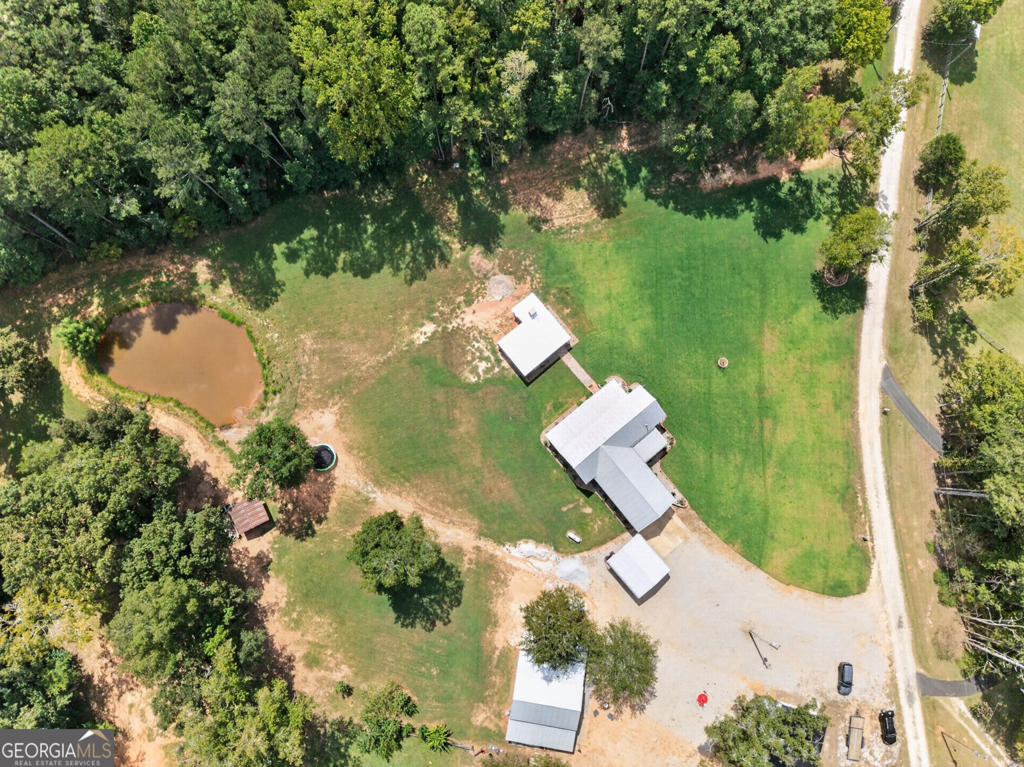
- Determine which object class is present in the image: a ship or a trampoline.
trampoline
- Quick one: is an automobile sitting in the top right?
No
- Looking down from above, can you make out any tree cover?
Yes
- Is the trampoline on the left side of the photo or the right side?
left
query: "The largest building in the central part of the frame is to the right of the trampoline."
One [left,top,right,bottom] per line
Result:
[545,379,676,532]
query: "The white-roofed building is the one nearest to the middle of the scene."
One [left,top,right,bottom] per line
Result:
[497,293,570,376]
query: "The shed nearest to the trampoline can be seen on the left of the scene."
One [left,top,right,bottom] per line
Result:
[230,499,272,534]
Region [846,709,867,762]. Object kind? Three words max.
trailer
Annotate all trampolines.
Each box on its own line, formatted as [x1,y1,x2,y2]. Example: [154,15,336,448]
[311,444,338,471]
